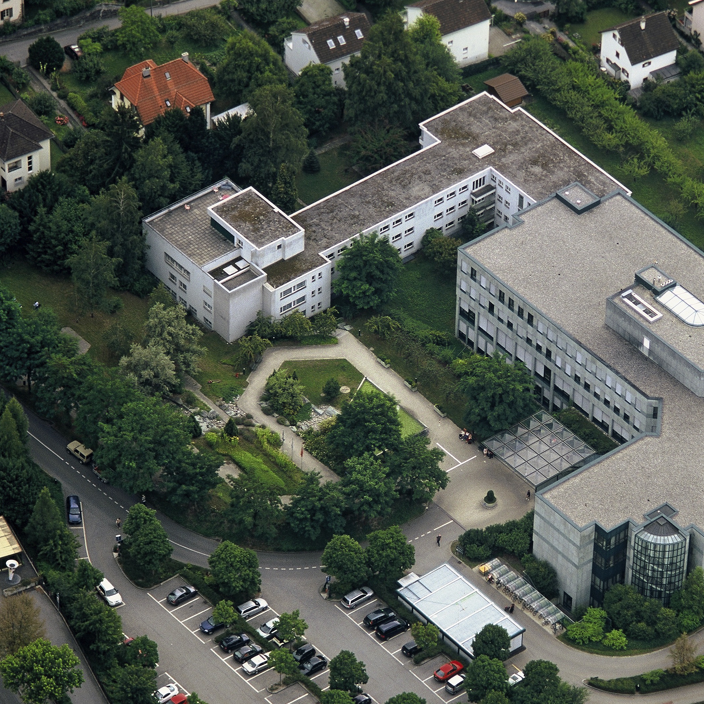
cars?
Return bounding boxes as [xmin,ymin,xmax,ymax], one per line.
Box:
[339,587,375,607]
[235,597,270,619]
[290,640,318,664]
[442,674,472,695]
[164,584,199,605]
[63,44,85,60]
[254,611,280,638]
[66,439,96,461]
[398,639,428,658]
[362,608,398,629]
[97,576,121,605]
[376,619,410,641]
[432,661,465,682]
[66,496,82,523]
[272,633,302,649]
[218,630,253,654]
[199,616,231,633]
[240,650,272,674]
[297,655,330,677]
[152,682,183,704]
[231,641,267,663]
